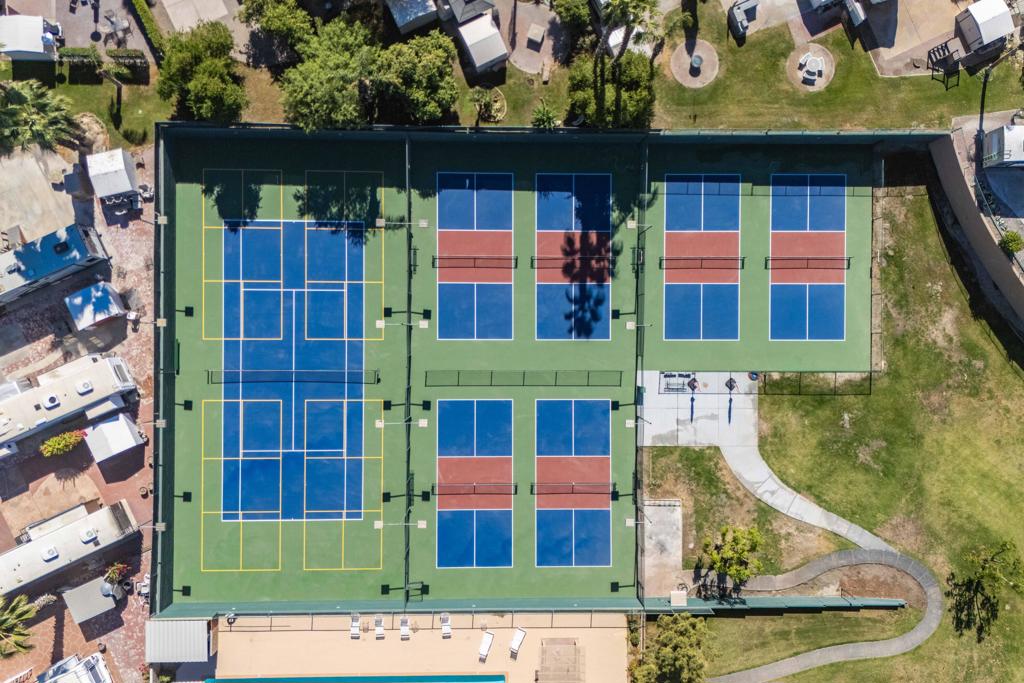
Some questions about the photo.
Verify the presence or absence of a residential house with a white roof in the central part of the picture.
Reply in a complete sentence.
No, no residential house with a white roof appears in the central part of the picture.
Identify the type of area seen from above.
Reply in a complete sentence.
This image shows a sports ground.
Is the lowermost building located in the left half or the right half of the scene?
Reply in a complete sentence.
The lowermost building sits on the left side.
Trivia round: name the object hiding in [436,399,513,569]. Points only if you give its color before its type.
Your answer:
blue sports court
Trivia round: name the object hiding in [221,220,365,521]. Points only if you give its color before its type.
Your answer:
blue tennis court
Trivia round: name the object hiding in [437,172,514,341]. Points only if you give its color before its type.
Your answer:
blue sports court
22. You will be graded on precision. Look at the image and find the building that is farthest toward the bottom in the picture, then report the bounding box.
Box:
[146,620,219,662]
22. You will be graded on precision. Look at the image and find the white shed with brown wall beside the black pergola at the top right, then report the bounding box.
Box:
[947,0,1016,56]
